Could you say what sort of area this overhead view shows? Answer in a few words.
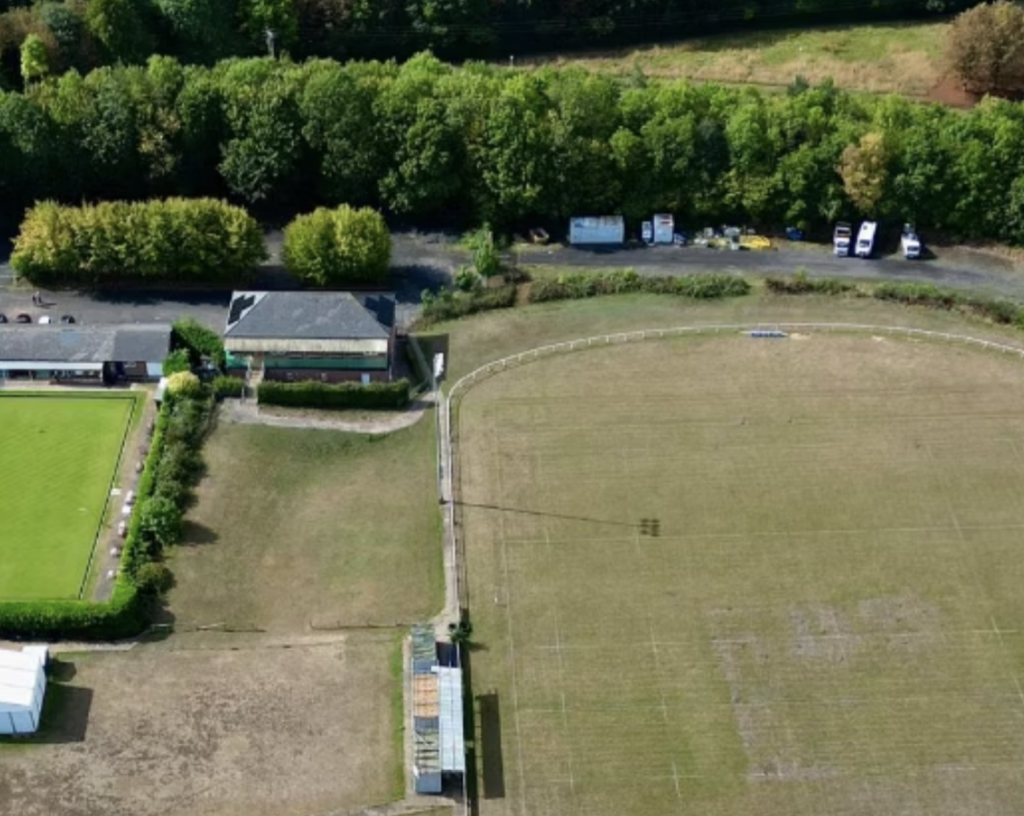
sports ground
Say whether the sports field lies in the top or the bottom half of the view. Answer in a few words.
bottom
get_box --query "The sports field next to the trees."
[452,332,1024,816]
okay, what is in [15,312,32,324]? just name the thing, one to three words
vehicle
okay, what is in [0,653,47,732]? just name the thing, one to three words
tent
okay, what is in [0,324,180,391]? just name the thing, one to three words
building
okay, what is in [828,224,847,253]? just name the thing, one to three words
vehicle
